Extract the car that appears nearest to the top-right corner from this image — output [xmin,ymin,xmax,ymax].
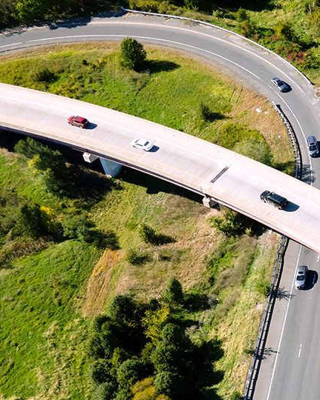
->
[272,77,290,93]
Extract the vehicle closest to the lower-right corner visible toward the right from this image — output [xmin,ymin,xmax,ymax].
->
[294,264,310,289]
